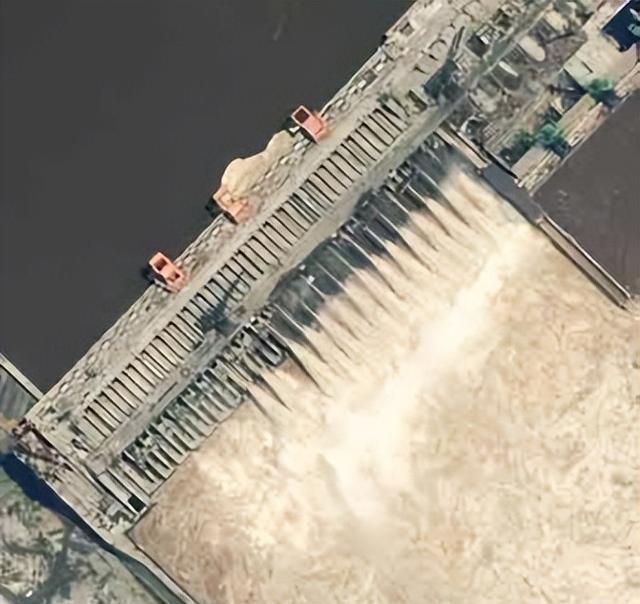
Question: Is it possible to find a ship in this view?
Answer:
No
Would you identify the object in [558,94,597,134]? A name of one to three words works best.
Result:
shed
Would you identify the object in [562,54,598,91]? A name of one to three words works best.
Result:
building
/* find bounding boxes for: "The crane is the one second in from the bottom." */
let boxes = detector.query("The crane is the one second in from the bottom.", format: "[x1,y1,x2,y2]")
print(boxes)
[148,254,187,293]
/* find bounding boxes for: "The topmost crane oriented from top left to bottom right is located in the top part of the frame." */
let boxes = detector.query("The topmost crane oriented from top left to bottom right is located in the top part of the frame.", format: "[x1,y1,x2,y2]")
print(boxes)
[291,106,329,145]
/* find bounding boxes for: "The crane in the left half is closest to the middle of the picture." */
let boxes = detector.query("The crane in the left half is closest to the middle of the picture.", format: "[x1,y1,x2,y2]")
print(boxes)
[211,276,244,333]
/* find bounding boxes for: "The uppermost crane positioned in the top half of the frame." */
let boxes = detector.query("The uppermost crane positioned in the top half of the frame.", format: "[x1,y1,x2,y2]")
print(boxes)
[432,26,464,107]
